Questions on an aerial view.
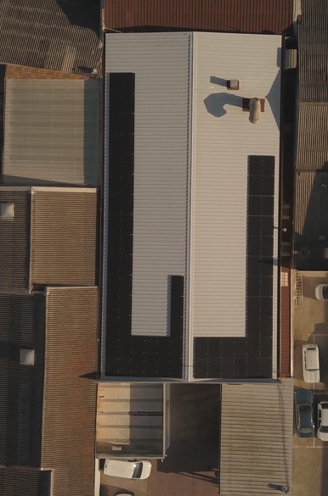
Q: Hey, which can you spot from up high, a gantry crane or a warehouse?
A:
warehouse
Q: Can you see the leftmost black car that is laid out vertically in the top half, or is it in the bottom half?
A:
bottom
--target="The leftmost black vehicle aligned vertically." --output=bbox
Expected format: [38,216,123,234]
[293,389,315,438]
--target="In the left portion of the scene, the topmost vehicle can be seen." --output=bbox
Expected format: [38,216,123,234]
[101,459,151,484]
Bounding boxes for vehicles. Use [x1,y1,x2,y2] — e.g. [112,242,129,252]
[101,459,151,484]
[315,400,328,441]
[314,282,328,301]
[300,343,322,384]
[293,389,315,438]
